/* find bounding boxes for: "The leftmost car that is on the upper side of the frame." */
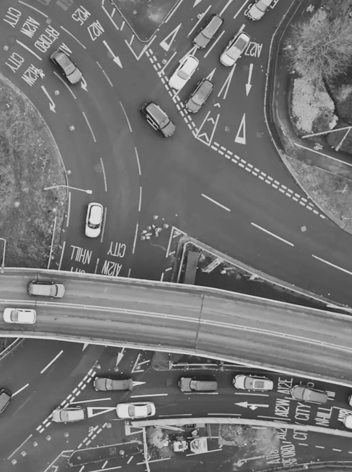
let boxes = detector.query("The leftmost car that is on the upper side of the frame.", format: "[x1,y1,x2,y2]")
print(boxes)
[46,46,83,87]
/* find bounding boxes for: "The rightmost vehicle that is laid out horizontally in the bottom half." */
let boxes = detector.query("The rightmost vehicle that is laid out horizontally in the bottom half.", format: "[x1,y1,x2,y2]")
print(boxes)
[289,382,331,408]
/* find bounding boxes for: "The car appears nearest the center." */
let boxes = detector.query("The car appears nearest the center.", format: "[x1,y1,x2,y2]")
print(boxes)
[84,203,104,237]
